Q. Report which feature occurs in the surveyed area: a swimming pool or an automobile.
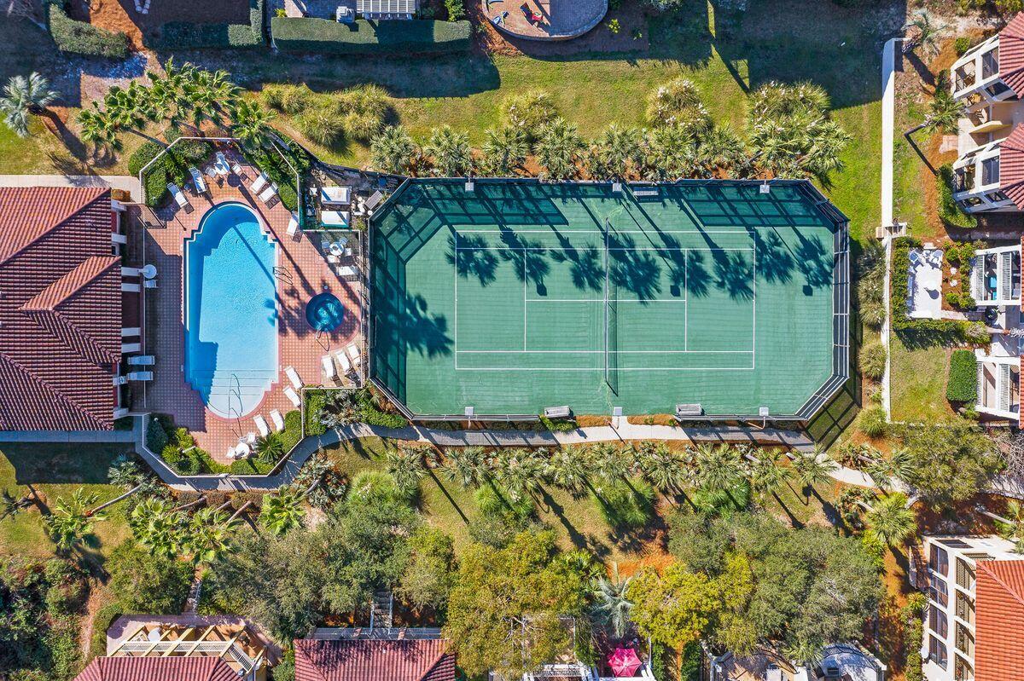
swimming pool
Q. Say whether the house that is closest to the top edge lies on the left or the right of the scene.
right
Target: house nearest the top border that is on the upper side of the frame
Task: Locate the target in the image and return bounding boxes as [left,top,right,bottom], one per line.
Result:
[953,10,1024,123]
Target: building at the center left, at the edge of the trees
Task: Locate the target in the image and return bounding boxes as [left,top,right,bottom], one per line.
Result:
[0,185,141,432]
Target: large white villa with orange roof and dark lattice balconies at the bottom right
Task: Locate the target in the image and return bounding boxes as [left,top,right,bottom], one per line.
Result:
[926,538,1024,681]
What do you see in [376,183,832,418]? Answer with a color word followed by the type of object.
green tennis court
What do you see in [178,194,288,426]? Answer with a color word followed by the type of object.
blue swimming pool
